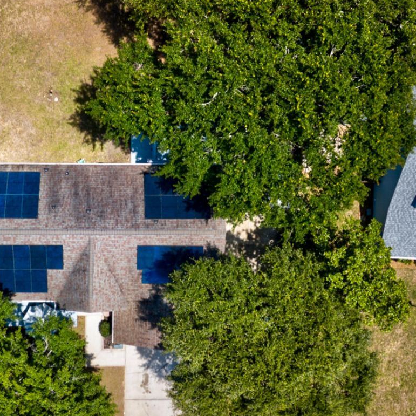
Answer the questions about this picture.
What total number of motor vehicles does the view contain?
none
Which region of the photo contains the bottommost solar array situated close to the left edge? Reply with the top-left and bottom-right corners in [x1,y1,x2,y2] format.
[0,245,64,290]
